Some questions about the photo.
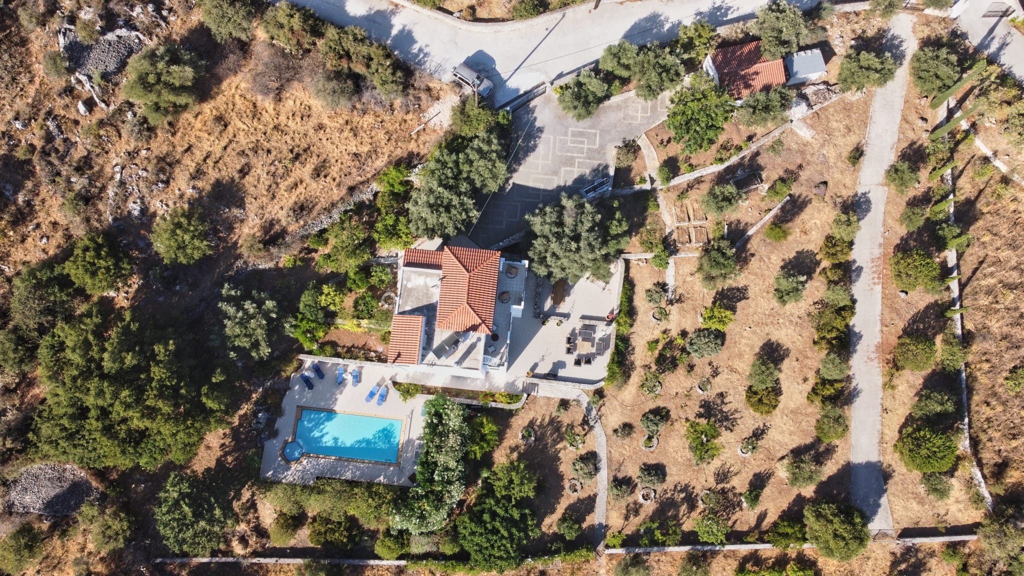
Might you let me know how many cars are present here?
1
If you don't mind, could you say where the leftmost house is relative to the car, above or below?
below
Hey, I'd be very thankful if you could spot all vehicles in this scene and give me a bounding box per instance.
[450,59,496,97]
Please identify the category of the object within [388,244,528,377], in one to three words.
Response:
house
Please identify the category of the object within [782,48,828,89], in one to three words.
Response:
shed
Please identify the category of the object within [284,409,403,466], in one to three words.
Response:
swimming pool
